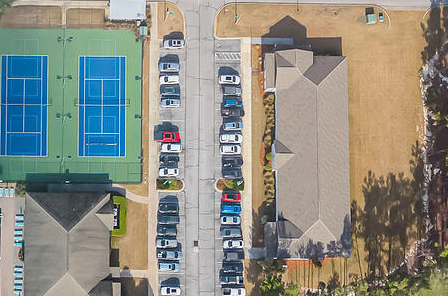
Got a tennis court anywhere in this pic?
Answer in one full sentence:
Yes, the frame does contain a tennis court.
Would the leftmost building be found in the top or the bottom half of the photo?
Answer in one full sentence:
Seen from above, the leftmost building lies in the bottom half of the view.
